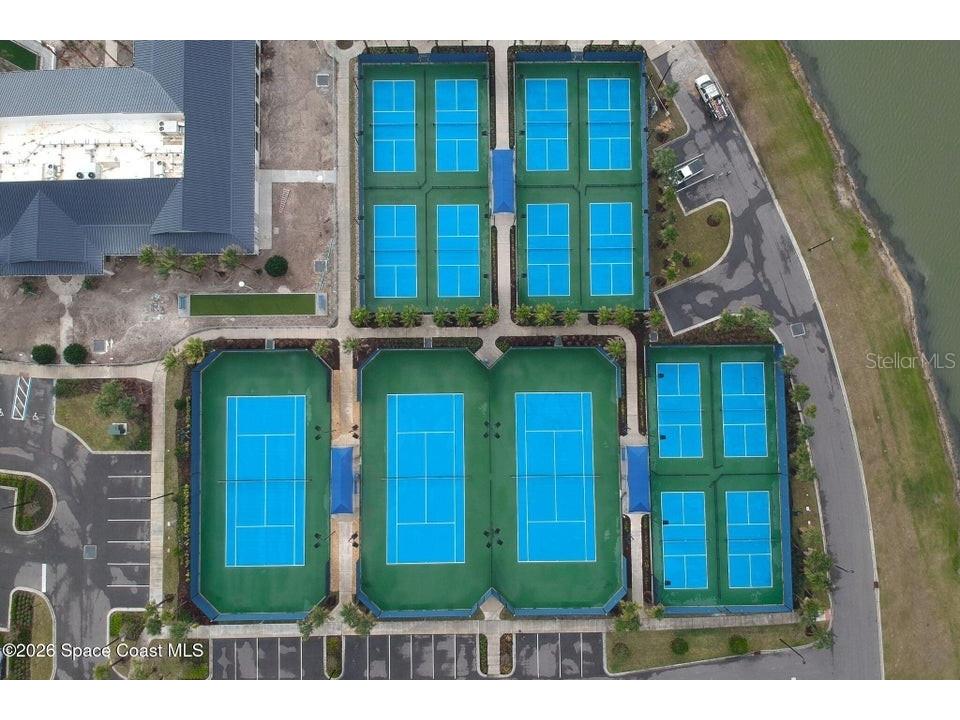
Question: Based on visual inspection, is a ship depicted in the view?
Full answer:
No, there is no ship in the image.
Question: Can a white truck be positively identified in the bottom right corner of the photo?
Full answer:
No, there is no white truck in the bottom right corner of the photo.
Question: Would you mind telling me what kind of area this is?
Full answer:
It's a sports ground.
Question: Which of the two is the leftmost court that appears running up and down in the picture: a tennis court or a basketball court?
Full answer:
The leftmost court that appears running up and down is a tennis court.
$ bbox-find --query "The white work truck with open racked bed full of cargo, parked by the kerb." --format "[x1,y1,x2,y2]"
[698,78,733,121]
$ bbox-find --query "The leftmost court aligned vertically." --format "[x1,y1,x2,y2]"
[201,352,331,612]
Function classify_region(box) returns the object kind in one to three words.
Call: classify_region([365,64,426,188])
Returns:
sports court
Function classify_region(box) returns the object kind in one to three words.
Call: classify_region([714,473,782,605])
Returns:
sports court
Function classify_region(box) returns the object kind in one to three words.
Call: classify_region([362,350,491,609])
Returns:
tennis court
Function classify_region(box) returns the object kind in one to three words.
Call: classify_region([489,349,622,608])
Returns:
tennis court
